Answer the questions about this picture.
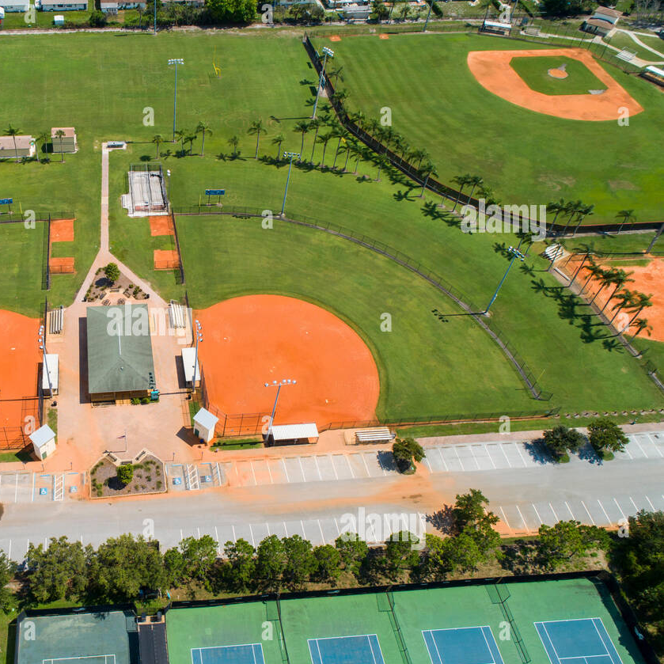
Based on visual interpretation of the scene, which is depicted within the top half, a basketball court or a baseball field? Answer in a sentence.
Looking within the top half, you will find a baseball field.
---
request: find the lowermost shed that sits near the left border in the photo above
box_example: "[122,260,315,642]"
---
[29,424,55,458]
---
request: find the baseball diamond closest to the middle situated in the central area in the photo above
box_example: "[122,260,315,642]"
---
[173,212,546,434]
